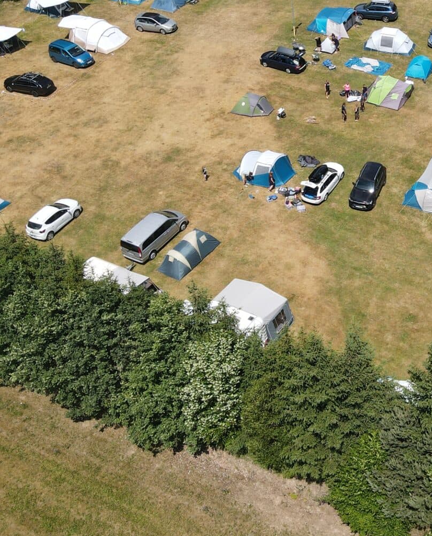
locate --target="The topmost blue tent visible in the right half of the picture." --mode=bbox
[308,7,369,39]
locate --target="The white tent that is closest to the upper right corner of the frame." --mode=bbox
[366,28,415,63]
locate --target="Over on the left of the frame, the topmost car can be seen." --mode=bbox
[129,11,178,34]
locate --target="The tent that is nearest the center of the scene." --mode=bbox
[158,234,221,281]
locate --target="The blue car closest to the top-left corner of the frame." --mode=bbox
[45,36,94,68]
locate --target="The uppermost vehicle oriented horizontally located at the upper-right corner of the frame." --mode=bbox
[352,0,400,22]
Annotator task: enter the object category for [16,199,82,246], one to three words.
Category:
car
